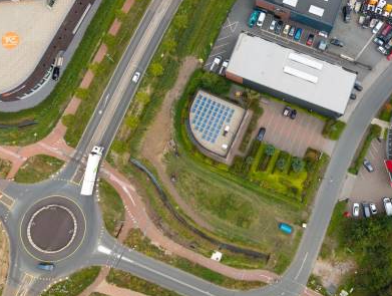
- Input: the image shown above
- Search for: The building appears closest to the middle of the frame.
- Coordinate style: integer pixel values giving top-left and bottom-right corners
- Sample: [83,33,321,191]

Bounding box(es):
[190,89,246,156]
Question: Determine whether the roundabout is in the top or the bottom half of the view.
bottom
